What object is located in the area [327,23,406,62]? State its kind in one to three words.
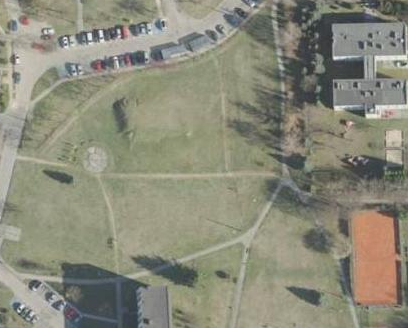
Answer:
building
